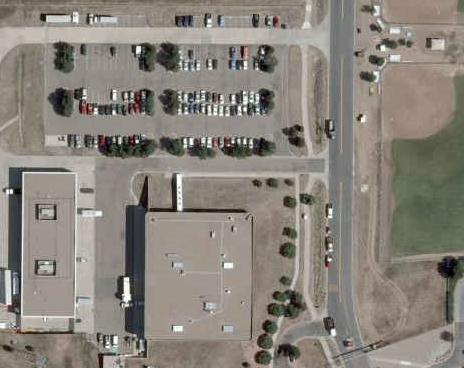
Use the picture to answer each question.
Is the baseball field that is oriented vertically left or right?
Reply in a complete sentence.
You can find the baseball field that is oriented vertically on the right side of the picture.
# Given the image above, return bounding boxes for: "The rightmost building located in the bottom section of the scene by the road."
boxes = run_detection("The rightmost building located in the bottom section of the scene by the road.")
[145,211,254,341]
